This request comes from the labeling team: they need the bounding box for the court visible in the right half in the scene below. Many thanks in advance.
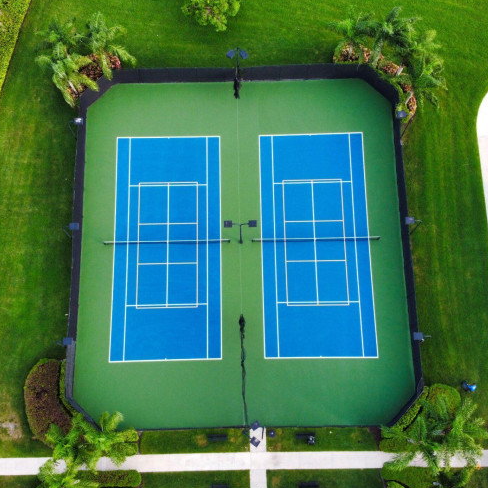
[239,77,416,428]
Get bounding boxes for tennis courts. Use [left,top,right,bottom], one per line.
[239,77,416,428]
[72,81,244,430]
